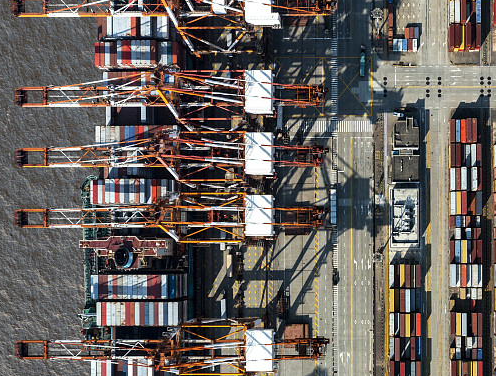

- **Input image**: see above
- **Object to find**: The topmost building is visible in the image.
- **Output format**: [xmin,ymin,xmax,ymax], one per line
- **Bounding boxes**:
[393,115,419,151]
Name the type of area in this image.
port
